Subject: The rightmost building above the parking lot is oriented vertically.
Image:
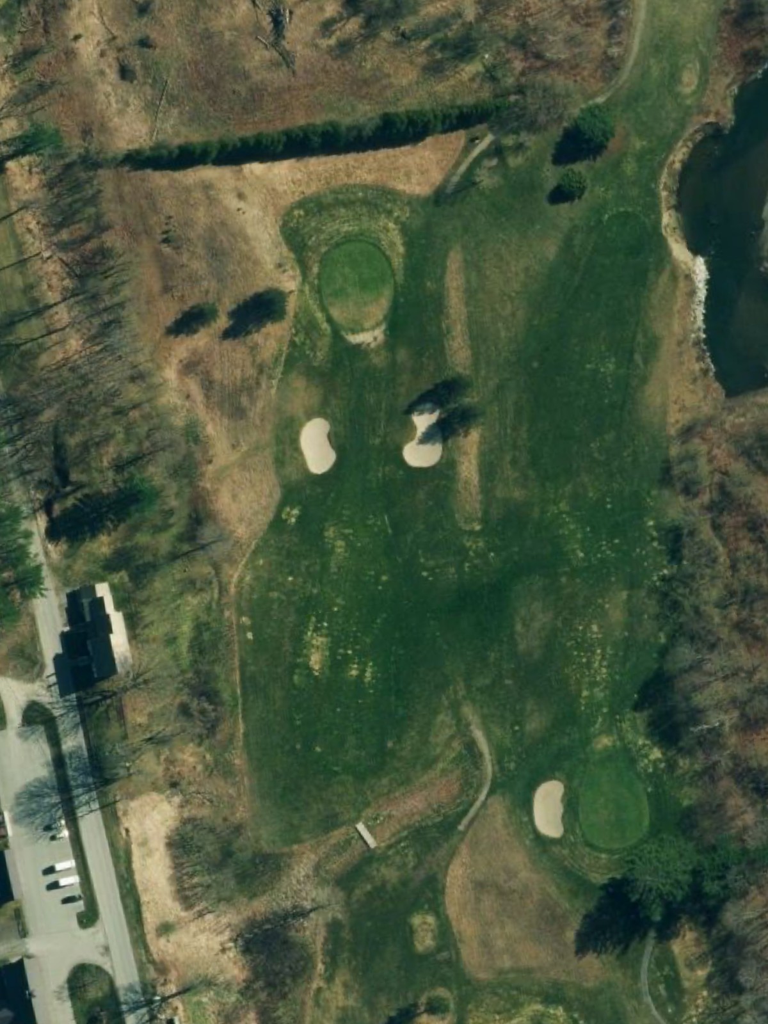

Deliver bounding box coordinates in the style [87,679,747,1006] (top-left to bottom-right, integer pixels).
[82,579,134,678]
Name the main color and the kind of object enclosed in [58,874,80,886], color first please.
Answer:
white vehicle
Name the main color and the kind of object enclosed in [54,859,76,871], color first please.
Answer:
white vehicle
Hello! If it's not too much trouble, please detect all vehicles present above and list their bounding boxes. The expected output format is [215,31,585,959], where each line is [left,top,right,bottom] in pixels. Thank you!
[49,819,67,829]
[54,859,76,871]
[66,894,83,903]
[58,874,80,886]
[53,829,70,839]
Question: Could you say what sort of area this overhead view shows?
golf course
